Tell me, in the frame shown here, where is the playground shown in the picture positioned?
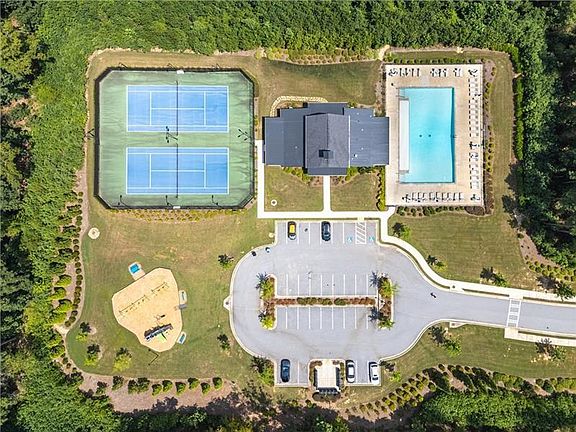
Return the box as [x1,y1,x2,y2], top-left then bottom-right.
[111,267,184,353]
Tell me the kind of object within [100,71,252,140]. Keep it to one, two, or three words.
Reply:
tennis court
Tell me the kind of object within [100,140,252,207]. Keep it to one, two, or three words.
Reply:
tennis court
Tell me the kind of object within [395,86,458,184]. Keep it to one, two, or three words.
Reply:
swimming pool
